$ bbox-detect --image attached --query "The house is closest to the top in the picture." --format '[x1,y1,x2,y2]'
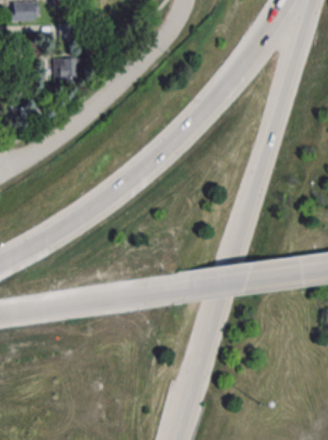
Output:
[13,2,40,22]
